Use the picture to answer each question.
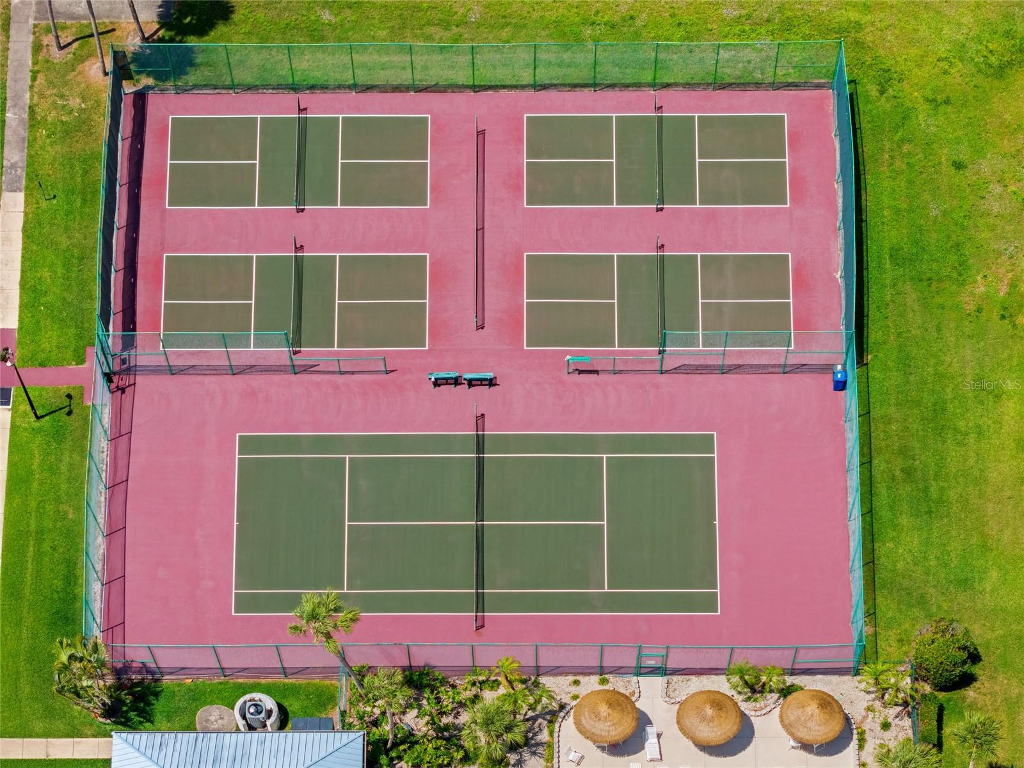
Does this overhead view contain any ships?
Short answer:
No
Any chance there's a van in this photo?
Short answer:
No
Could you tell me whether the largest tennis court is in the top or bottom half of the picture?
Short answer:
bottom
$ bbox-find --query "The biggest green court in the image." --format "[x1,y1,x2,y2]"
[232,433,720,615]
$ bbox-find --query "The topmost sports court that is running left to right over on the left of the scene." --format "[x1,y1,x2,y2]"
[166,114,430,208]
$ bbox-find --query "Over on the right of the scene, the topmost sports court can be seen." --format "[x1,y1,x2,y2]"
[525,113,788,207]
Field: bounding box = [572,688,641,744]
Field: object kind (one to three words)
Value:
umbrella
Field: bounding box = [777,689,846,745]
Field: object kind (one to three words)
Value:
umbrella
